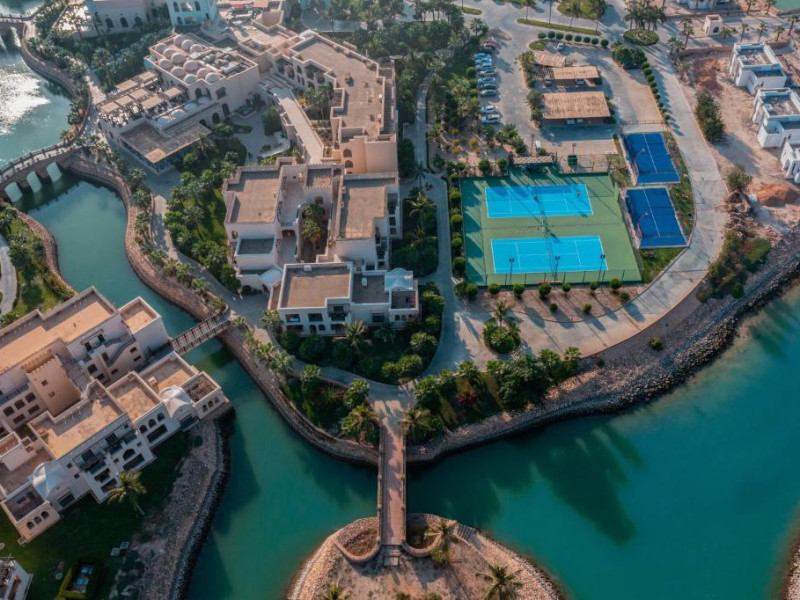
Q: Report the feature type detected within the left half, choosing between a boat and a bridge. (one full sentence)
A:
What appears within the left half is a bridge.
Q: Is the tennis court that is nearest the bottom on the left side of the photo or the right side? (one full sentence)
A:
The tennis court that is nearest the bottom is on the right side of the image.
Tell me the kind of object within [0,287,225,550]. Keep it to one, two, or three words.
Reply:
building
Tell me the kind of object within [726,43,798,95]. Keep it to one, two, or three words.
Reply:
house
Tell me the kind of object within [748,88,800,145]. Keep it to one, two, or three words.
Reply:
house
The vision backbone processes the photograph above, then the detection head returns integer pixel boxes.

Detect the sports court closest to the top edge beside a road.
[622,123,683,184]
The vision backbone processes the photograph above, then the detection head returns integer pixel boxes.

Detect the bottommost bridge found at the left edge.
[0,140,81,199]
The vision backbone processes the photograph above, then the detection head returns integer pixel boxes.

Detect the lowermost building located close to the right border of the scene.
[771,134,800,189]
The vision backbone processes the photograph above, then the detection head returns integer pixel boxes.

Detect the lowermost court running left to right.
[491,231,608,274]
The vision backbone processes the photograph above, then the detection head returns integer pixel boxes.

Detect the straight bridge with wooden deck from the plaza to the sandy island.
[377,396,405,572]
